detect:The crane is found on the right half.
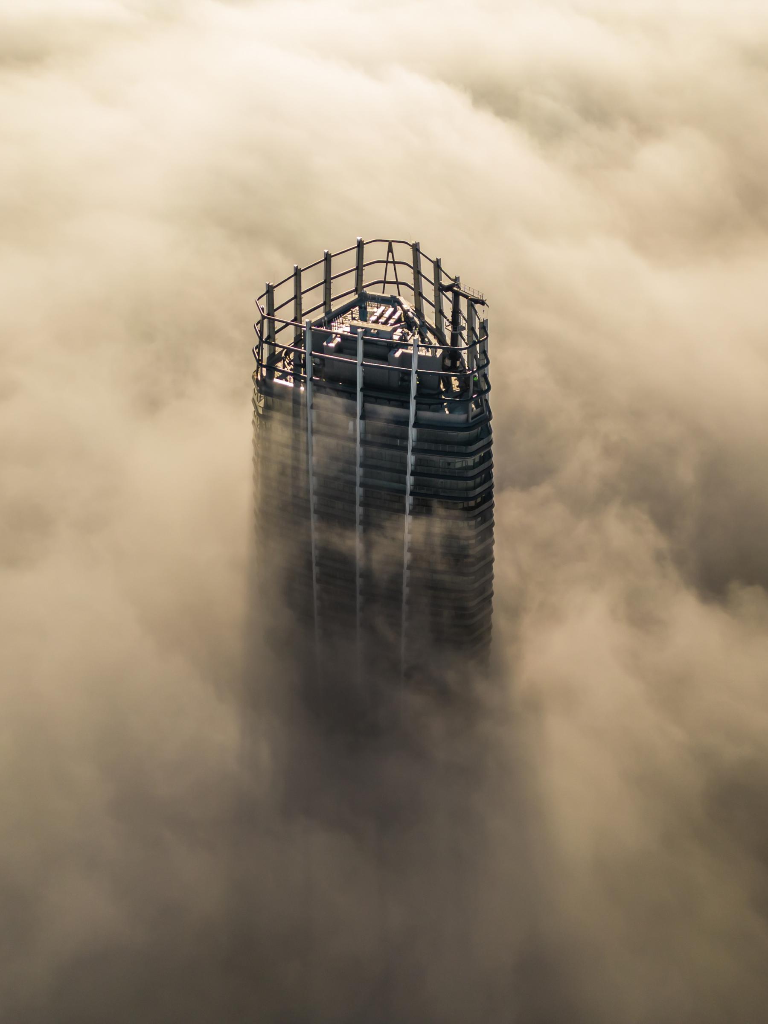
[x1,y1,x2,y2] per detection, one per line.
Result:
[439,275,491,369]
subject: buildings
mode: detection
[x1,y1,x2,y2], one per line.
[253,235,492,1024]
